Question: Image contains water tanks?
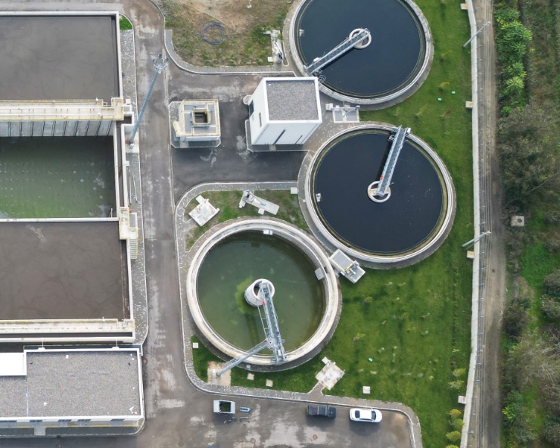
Yes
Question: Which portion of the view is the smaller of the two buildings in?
top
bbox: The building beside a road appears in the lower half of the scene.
[0,344,144,435]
